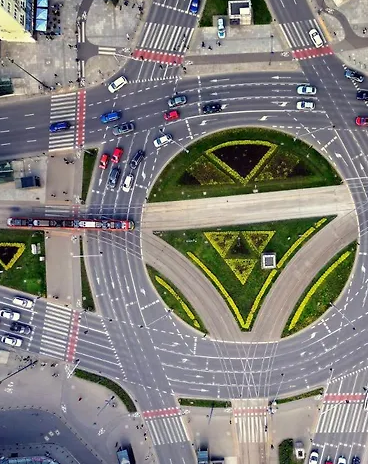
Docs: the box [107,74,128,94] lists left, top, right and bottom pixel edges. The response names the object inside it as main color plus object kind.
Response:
white car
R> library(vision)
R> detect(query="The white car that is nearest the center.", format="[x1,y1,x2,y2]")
[122,173,135,193]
